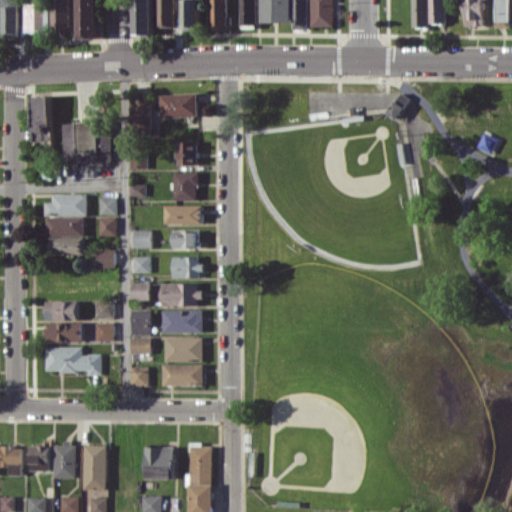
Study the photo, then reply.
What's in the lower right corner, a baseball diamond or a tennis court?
baseball diamond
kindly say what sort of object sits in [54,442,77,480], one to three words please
house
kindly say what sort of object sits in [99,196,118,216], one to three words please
building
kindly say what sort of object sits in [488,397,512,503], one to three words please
pond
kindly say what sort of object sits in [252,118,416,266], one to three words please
baseball field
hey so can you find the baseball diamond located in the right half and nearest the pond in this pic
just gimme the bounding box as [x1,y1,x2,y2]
[252,264,494,512]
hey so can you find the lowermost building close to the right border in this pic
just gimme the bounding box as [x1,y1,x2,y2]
[476,133,500,156]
